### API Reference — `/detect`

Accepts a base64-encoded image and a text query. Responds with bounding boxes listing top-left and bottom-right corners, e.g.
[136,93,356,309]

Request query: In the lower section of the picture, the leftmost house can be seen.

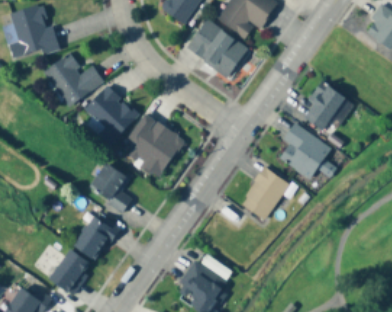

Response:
[6,288,48,312]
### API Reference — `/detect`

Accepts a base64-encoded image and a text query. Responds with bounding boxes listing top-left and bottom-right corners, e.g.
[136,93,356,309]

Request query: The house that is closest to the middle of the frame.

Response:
[128,115,187,177]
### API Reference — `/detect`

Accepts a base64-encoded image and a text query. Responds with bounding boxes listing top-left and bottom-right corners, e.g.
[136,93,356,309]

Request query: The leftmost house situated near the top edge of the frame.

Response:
[10,4,61,58]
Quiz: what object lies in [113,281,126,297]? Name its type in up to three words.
vehicle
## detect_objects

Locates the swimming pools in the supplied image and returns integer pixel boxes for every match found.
[274,208,286,222]
[74,196,88,209]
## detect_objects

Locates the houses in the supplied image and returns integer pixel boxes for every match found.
[6,288,48,312]
[179,258,222,312]
[277,124,332,178]
[10,4,61,58]
[49,249,89,292]
[188,18,249,76]
[216,0,278,36]
[242,167,290,220]
[368,3,392,46]
[90,162,135,215]
[306,82,346,126]
[44,52,102,104]
[128,115,187,177]
[164,0,202,25]
[74,213,118,260]
[83,84,139,133]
